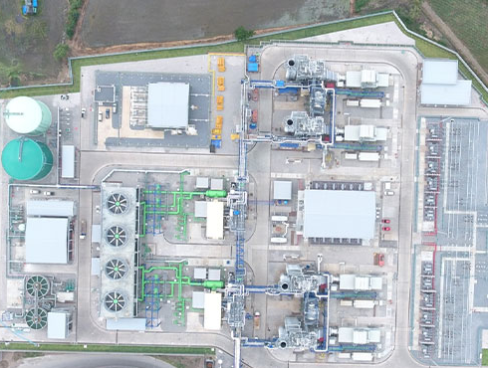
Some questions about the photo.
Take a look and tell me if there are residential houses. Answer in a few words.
Yes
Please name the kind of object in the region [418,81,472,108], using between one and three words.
shed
